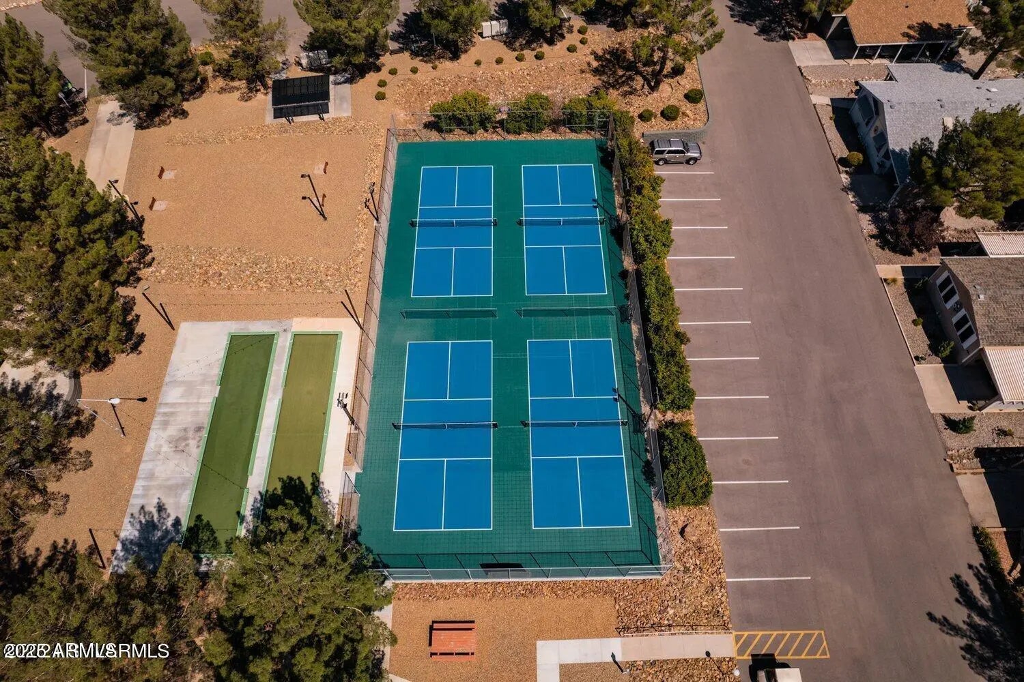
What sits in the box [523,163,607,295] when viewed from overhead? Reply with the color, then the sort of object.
blue sports court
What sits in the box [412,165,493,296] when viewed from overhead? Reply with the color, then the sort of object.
blue sports court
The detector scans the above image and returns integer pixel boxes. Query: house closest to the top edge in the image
[826,0,975,64]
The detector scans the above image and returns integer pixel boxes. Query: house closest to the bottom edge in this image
[928,231,1024,414]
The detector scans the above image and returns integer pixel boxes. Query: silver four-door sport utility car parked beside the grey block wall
[646,137,702,166]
